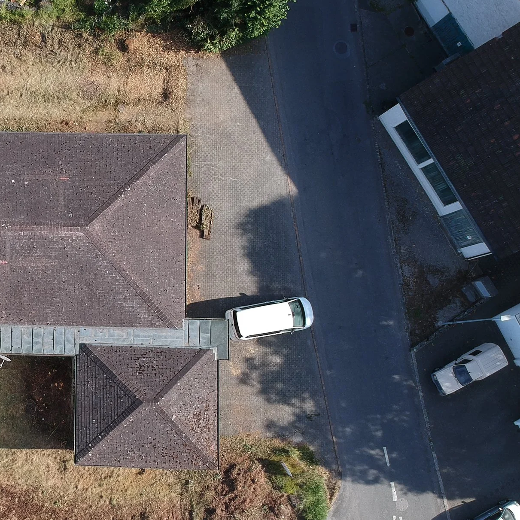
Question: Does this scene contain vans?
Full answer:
Yes, the frame does contain a van.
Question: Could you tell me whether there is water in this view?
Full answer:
No, water can't be seen anywhere here.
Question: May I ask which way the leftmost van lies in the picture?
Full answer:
The leftmost van is oriented from left to right.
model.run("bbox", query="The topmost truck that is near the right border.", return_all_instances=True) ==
[422,341,514,402]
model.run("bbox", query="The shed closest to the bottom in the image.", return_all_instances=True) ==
[56,343,251,482]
